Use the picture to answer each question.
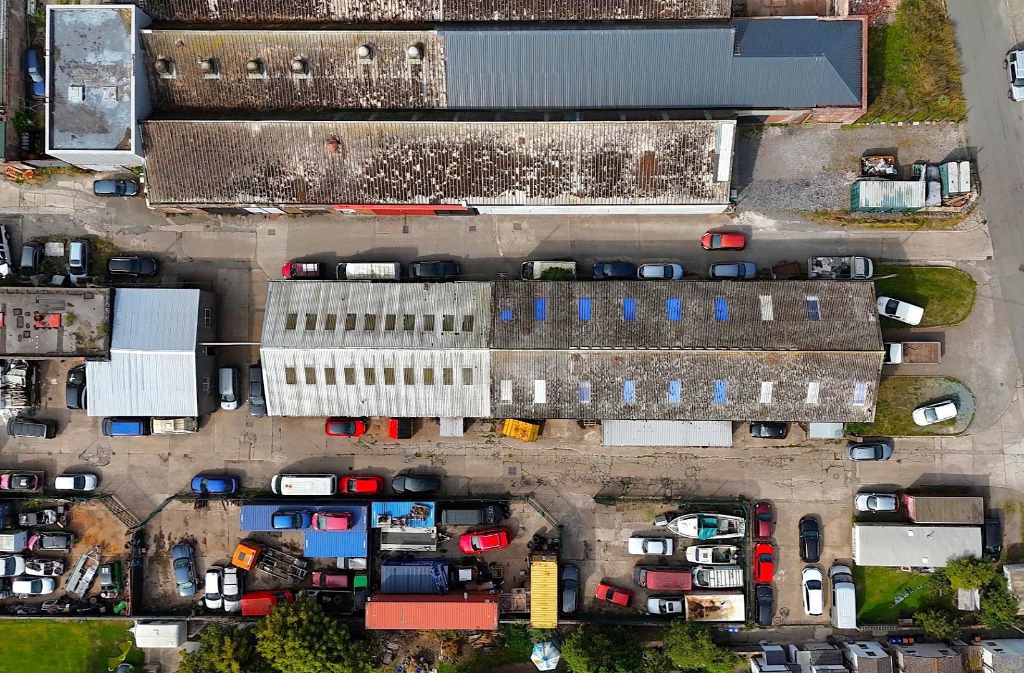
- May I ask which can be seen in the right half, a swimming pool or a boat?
boat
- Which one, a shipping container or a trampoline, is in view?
shipping container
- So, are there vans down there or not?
Yes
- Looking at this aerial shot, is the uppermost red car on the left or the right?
right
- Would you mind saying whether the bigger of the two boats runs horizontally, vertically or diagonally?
horizontally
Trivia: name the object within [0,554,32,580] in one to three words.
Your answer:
car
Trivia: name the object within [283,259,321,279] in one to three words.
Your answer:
vehicle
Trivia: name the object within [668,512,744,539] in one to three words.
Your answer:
boat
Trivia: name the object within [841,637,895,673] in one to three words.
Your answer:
house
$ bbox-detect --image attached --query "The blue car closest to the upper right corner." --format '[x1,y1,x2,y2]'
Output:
[708,258,756,279]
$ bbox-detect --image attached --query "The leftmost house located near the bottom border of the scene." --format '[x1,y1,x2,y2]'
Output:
[747,639,792,673]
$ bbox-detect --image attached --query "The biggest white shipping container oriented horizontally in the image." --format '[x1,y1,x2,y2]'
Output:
[846,181,927,213]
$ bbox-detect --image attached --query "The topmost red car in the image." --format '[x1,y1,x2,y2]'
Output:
[699,231,745,252]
